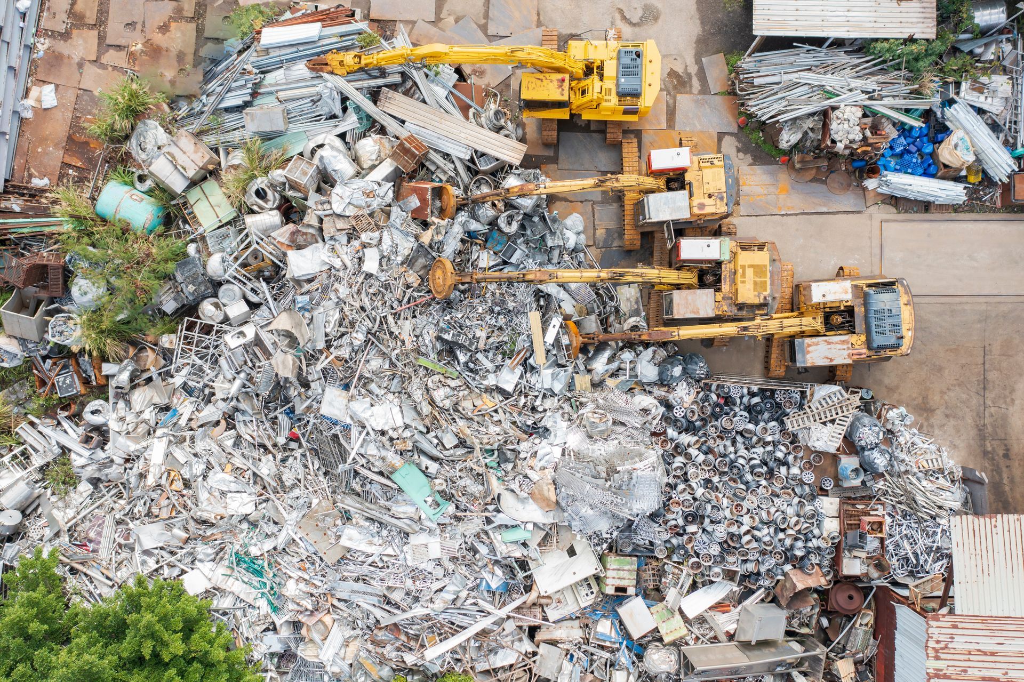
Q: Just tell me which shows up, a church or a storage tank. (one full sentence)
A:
It is a storage tank that can be seen here.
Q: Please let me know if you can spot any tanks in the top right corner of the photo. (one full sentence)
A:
No, no tank is visible in the top right corner of the photo.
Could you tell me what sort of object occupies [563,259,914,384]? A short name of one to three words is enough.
work vehicle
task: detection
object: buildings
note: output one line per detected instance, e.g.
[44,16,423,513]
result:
[730,0,937,38]
[950,514,1024,617]
[925,614,1024,682]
